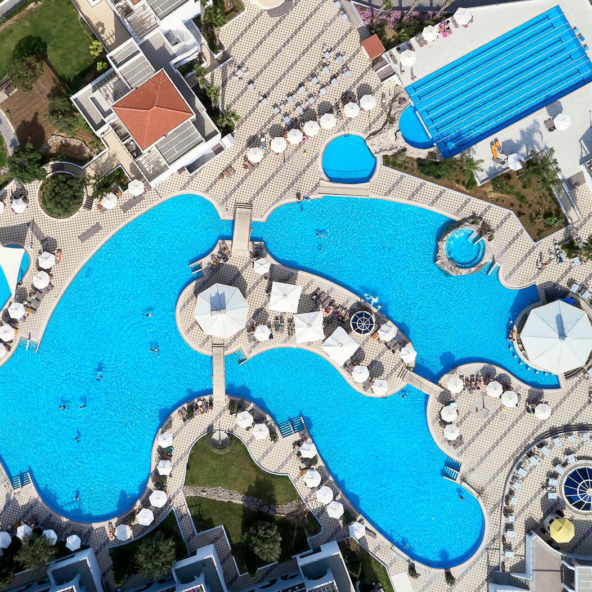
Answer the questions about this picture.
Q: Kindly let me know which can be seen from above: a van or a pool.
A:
pool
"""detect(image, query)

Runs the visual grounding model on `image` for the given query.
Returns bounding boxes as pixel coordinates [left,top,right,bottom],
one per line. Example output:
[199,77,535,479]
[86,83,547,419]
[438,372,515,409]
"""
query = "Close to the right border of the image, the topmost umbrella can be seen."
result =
[554,113,573,131]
